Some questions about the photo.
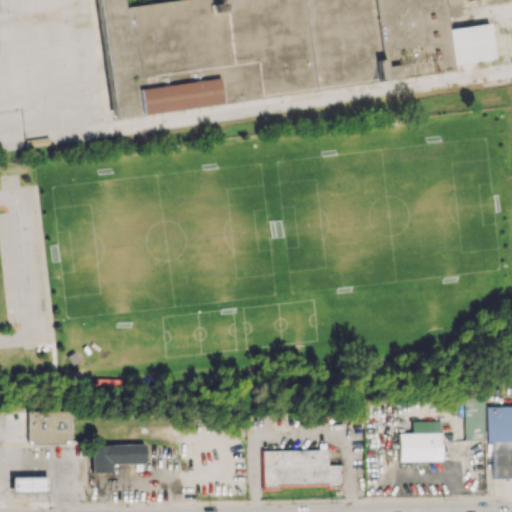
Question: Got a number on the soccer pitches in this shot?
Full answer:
I count 4 soccer pitches.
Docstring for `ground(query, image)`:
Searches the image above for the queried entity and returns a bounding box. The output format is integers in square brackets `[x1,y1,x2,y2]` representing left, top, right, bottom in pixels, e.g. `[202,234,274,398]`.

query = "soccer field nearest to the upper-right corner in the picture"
[274,136,503,296]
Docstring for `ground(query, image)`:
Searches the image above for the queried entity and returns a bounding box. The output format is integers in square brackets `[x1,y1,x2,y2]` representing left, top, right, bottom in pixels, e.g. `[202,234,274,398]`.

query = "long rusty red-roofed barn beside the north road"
[143,78,228,114]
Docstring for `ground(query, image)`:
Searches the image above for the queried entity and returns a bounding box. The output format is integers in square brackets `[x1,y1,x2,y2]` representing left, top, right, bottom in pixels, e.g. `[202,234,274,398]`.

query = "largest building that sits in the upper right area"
[452,22,499,66]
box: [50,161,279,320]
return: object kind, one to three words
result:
soccer field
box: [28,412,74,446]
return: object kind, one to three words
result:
building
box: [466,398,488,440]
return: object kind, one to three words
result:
building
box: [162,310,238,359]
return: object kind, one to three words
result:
soccer field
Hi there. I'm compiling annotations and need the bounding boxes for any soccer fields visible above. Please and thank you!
[242,300,318,350]
[162,310,238,359]
[50,161,279,320]
[274,136,503,296]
